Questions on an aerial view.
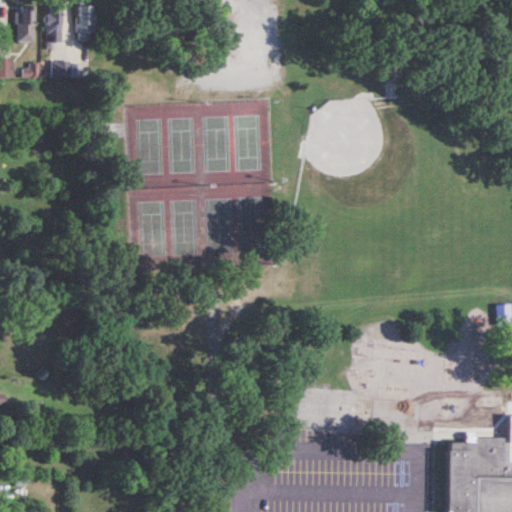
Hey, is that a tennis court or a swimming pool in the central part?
tennis court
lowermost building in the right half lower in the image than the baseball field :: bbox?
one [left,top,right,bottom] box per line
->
[452,416,512,512]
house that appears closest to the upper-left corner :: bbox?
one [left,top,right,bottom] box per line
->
[17,4,36,44]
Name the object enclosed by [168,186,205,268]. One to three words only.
tennis court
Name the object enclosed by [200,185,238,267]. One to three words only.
tennis court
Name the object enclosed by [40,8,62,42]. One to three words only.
house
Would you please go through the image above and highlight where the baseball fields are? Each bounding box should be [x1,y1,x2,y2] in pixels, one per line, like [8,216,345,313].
[276,88,512,302]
